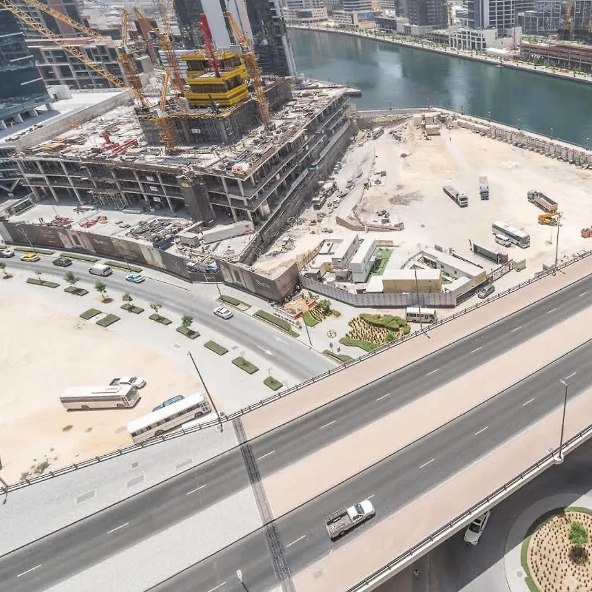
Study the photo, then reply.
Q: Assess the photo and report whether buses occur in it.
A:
Yes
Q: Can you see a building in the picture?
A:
Yes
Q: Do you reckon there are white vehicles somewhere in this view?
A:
Yes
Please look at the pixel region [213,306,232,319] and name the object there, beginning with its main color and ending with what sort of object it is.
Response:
white vehicle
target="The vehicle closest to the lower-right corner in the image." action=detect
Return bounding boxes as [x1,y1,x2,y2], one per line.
[465,510,491,543]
